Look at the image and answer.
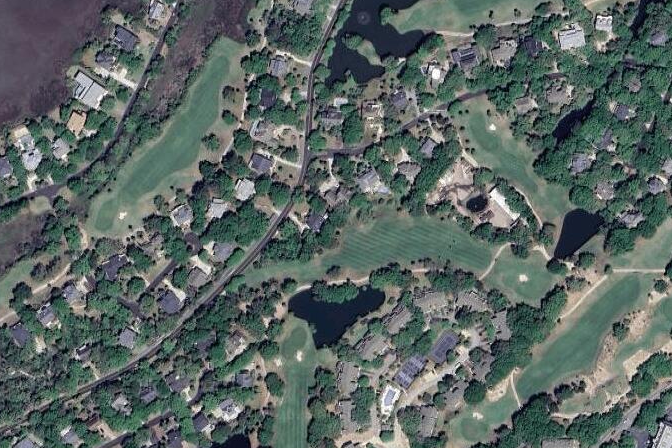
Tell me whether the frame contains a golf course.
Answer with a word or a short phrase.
Yes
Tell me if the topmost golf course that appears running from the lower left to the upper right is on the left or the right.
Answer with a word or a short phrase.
left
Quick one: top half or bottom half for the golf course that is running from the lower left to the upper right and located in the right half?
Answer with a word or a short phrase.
bottom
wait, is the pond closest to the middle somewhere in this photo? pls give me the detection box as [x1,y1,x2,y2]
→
[287,283,386,349]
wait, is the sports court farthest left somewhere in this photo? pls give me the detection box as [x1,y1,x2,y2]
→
[394,350,425,385]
